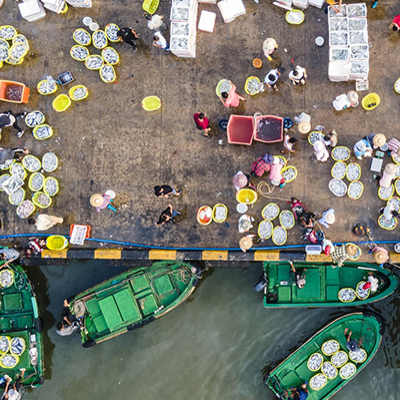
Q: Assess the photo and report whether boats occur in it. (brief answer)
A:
Yes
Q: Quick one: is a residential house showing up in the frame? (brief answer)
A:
No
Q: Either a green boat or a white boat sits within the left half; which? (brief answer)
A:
green boat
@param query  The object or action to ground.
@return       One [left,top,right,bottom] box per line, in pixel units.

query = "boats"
[252,264,399,308]
[61,265,201,353]
[0,259,44,389]
[267,312,385,400]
